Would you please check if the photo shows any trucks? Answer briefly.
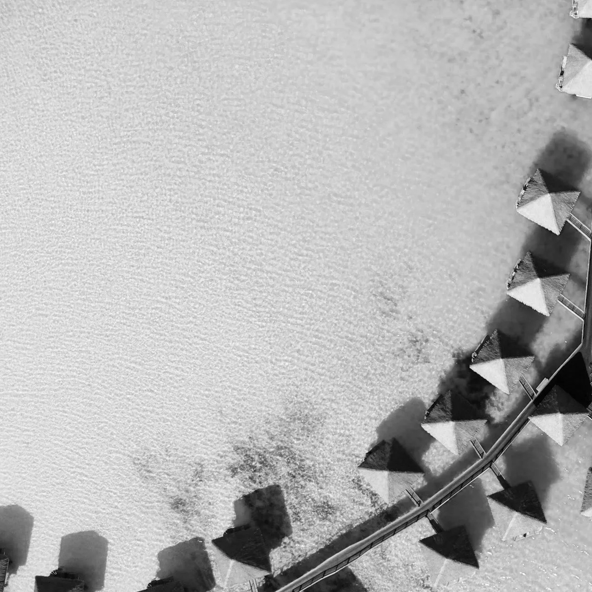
No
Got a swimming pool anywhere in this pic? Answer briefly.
No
